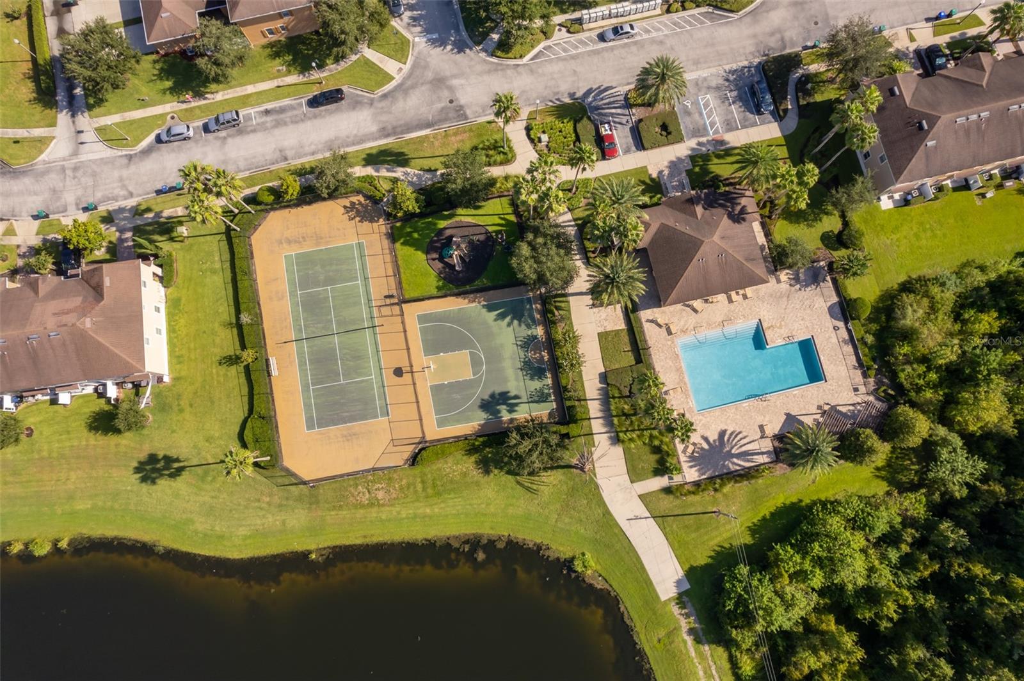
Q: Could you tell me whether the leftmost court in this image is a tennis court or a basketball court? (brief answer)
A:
tennis court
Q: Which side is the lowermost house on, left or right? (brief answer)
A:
left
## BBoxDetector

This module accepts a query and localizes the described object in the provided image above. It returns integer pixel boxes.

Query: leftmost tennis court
[251,194,423,480]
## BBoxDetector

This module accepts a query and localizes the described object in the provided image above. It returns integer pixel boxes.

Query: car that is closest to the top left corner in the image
[160,123,193,143]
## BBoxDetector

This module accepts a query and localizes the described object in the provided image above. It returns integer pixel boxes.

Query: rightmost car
[921,39,949,67]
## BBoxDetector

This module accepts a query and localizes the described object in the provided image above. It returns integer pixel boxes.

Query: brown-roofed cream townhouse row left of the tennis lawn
[0,259,165,398]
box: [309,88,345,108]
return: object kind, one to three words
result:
car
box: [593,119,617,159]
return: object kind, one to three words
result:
truck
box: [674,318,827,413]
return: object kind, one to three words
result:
swimming pool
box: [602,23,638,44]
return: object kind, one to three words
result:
car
